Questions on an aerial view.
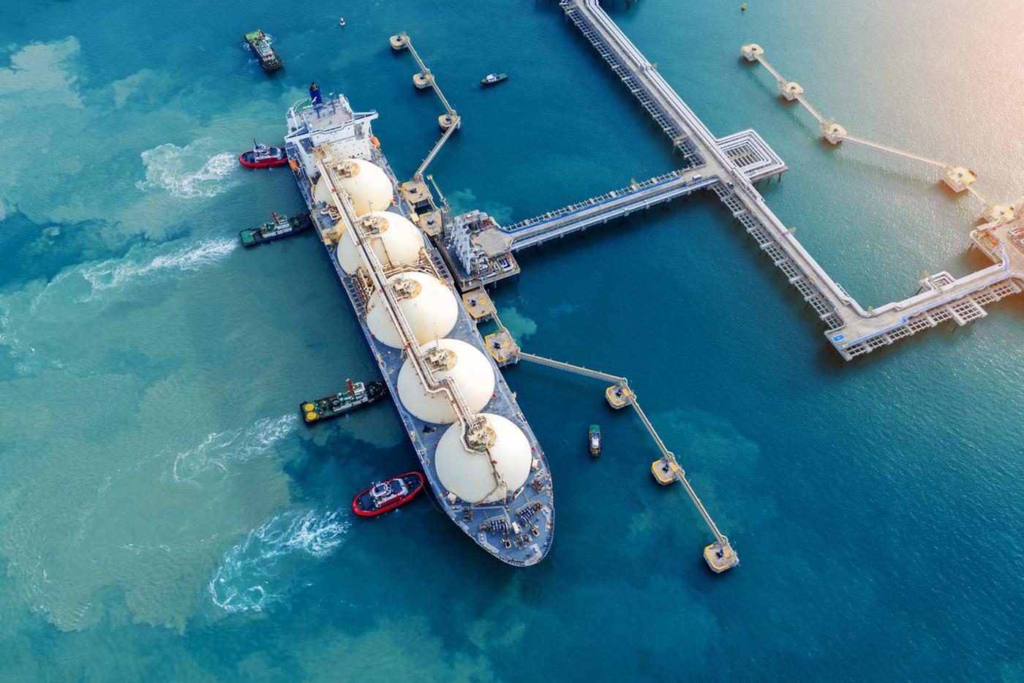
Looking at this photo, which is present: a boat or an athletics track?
boat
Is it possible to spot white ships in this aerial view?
Yes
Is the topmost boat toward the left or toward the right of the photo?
left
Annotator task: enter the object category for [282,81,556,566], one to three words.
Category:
ship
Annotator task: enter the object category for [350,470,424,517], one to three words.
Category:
boat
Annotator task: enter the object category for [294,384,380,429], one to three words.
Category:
boat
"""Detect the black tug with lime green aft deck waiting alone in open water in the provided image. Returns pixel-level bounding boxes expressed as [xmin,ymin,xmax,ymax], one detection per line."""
[242,23,280,71]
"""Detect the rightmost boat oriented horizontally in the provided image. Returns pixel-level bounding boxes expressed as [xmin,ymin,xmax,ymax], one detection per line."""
[481,71,508,84]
